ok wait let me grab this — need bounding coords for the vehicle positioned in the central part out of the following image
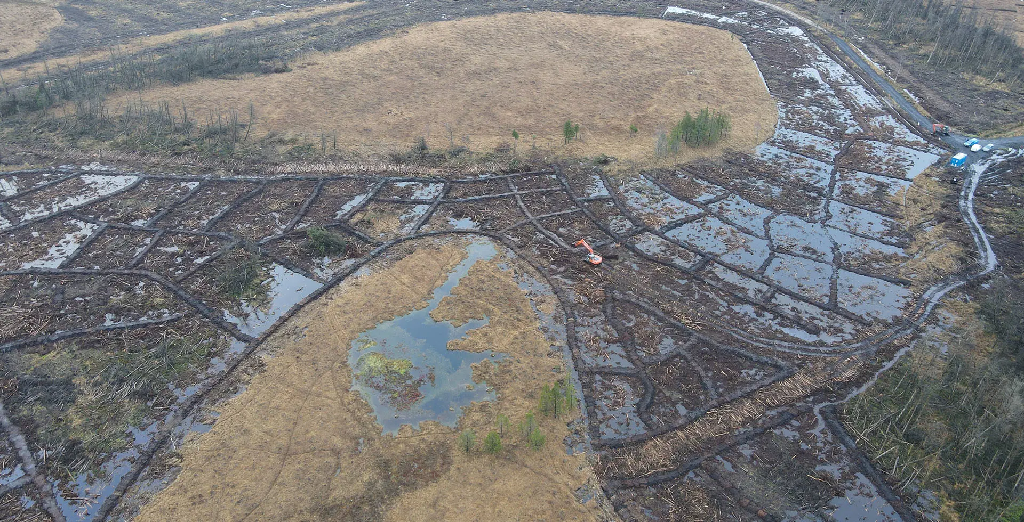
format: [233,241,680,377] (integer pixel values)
[574,236,605,267]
